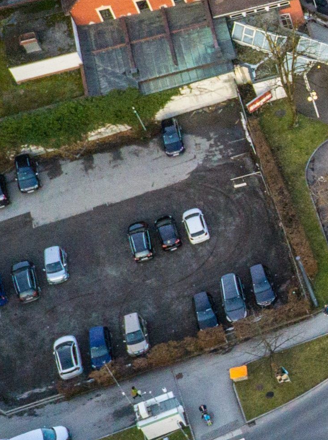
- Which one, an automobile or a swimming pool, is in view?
automobile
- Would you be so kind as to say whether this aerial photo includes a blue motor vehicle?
Yes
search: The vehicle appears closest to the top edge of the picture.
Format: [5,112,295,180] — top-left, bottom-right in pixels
[158,117,182,154]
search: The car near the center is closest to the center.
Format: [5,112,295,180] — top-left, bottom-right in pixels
[153,214,180,251]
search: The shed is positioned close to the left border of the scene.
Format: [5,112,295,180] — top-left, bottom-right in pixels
[0,0,85,79]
